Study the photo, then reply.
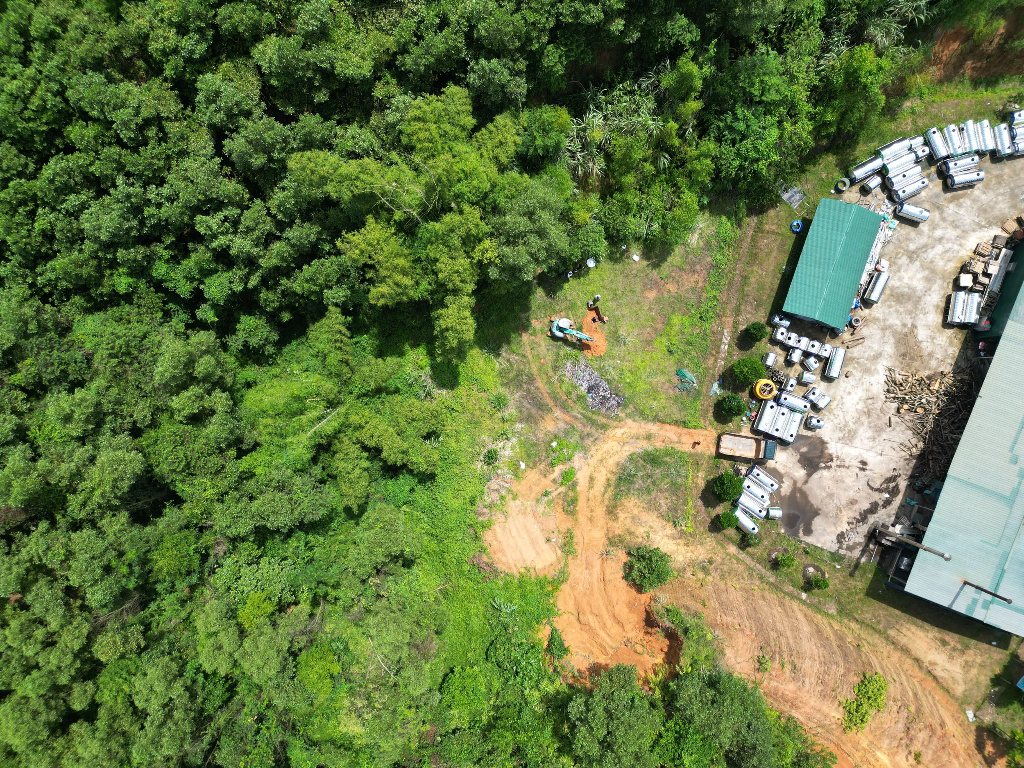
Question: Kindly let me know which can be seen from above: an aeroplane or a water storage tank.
water storage tank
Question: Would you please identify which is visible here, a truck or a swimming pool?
truck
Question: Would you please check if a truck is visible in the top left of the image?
No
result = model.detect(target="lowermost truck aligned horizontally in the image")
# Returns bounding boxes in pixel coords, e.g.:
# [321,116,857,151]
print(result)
[715,431,775,464]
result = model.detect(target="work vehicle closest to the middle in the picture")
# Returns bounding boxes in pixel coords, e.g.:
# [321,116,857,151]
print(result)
[544,314,601,353]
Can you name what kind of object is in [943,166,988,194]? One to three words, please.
water tank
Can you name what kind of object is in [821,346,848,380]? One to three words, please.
water tank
